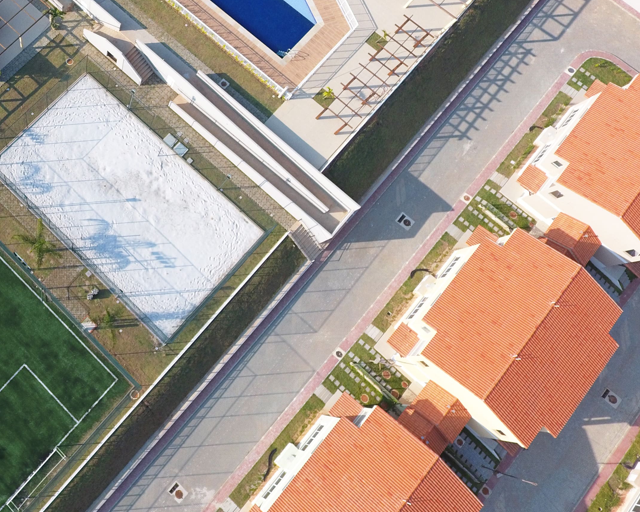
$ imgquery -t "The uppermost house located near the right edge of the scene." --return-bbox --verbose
[495,70,640,286]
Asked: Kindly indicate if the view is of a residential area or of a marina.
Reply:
residential area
